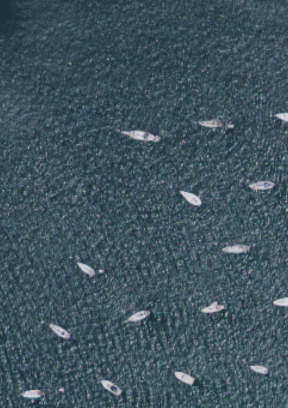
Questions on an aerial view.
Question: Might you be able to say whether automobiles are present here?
No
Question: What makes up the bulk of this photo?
water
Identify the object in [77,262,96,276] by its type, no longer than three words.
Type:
boat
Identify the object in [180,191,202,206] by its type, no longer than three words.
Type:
boat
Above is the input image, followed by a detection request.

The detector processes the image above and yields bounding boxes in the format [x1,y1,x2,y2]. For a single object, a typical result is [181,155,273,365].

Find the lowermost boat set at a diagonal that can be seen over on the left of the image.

[101,380,122,396]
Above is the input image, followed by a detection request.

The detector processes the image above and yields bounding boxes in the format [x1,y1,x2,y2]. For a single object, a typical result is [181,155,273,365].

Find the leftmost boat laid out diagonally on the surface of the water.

[49,324,70,339]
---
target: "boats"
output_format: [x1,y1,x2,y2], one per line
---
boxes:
[49,324,70,339]
[201,304,224,312]
[222,246,251,253]
[22,390,44,398]
[180,191,202,206]
[248,182,274,189]
[101,380,122,396]
[174,372,194,386]
[273,298,288,306]
[122,131,160,142]
[274,112,288,121]
[250,366,268,375]
[77,262,96,276]
[198,120,220,127]
[124,310,150,322]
